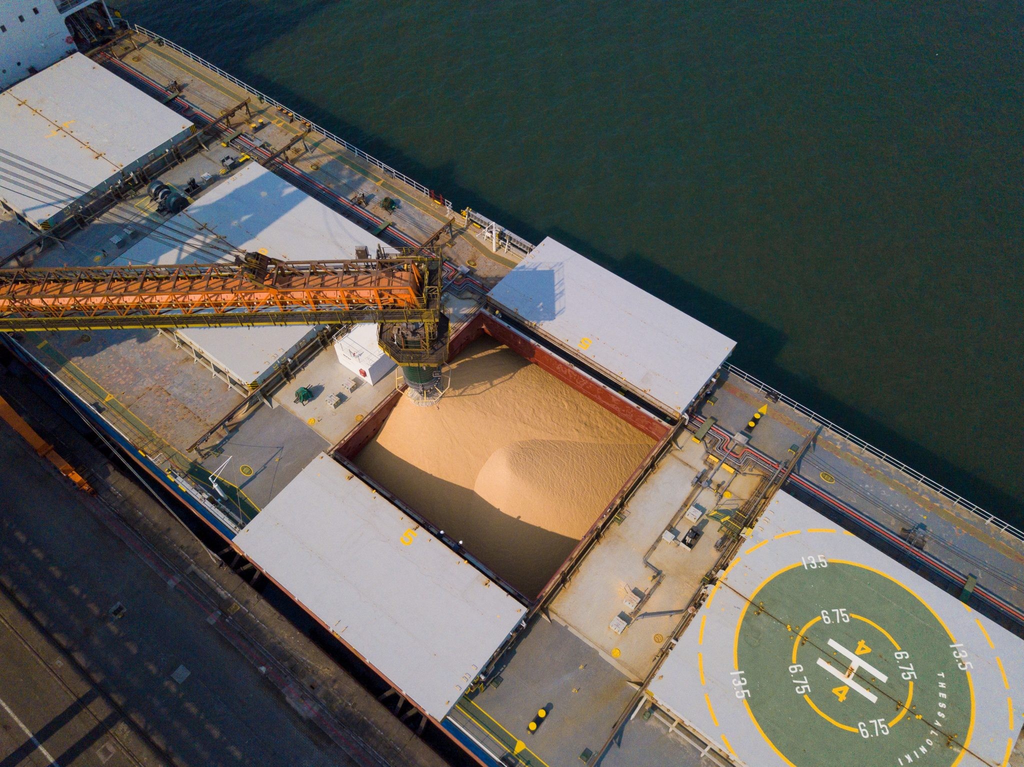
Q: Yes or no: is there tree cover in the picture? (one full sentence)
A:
No, no tree cover is visible.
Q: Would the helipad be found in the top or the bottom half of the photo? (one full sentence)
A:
The helipad is in the bottom half of the image.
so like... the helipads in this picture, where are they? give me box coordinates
[699,528,1013,767]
